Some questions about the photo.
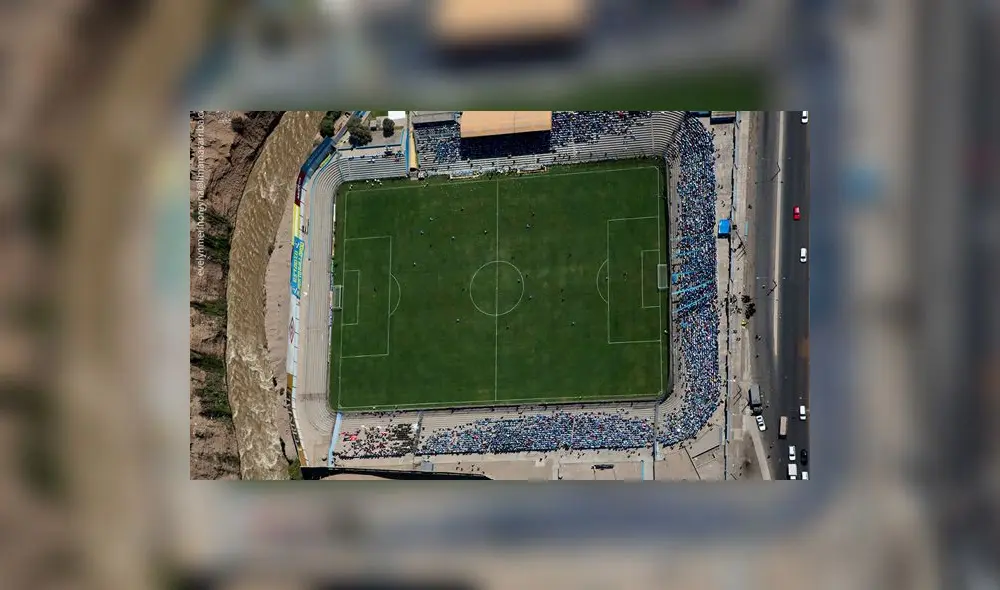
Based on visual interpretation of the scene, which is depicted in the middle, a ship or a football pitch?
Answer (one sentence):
Visible in the middle is a football pitch.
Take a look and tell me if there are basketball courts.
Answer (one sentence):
No, the photo shows no basketball court.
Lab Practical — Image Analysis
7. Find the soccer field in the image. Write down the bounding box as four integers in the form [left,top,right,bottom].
[328,159,672,411]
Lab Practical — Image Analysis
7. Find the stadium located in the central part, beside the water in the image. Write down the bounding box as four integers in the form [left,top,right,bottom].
[305,78,720,471]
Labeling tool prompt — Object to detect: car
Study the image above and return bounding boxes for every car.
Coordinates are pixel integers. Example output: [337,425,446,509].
[794,206,801,221]
[800,404,806,420]
[802,109,808,124]
[801,449,808,466]
[802,470,808,486]
[757,414,766,432]
[788,445,796,461]
[800,247,807,263]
